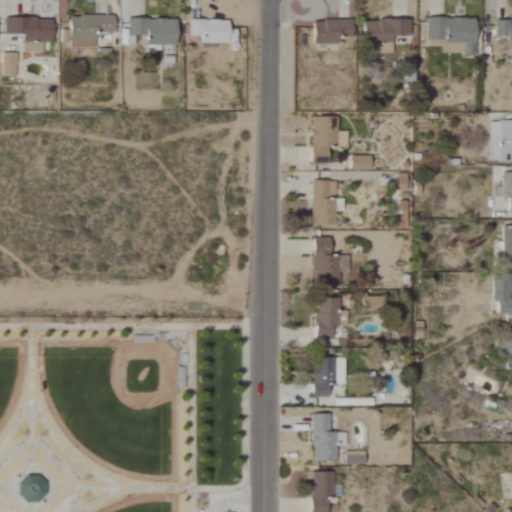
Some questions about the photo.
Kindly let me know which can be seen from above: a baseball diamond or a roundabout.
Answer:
baseball diamond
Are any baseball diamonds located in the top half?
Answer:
No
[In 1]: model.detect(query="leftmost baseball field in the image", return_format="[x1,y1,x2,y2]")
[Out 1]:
[0,342,24,430]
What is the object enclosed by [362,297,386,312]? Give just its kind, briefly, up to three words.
shed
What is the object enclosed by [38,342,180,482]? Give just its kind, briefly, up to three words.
baseball field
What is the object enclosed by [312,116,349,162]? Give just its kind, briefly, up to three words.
house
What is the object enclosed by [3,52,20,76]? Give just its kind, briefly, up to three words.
shed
